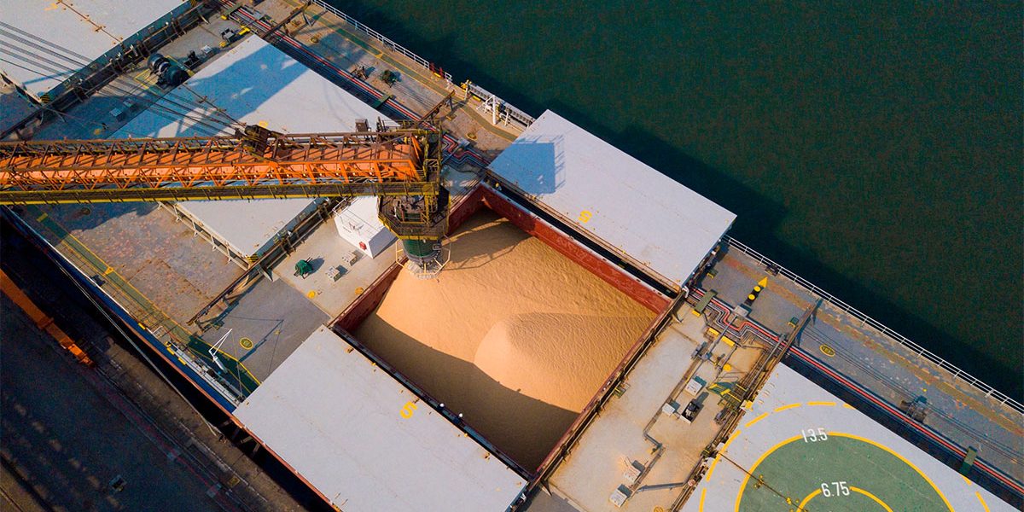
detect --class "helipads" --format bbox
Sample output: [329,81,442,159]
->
[700,402,986,512]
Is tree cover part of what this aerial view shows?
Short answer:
No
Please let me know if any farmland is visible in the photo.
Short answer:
No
